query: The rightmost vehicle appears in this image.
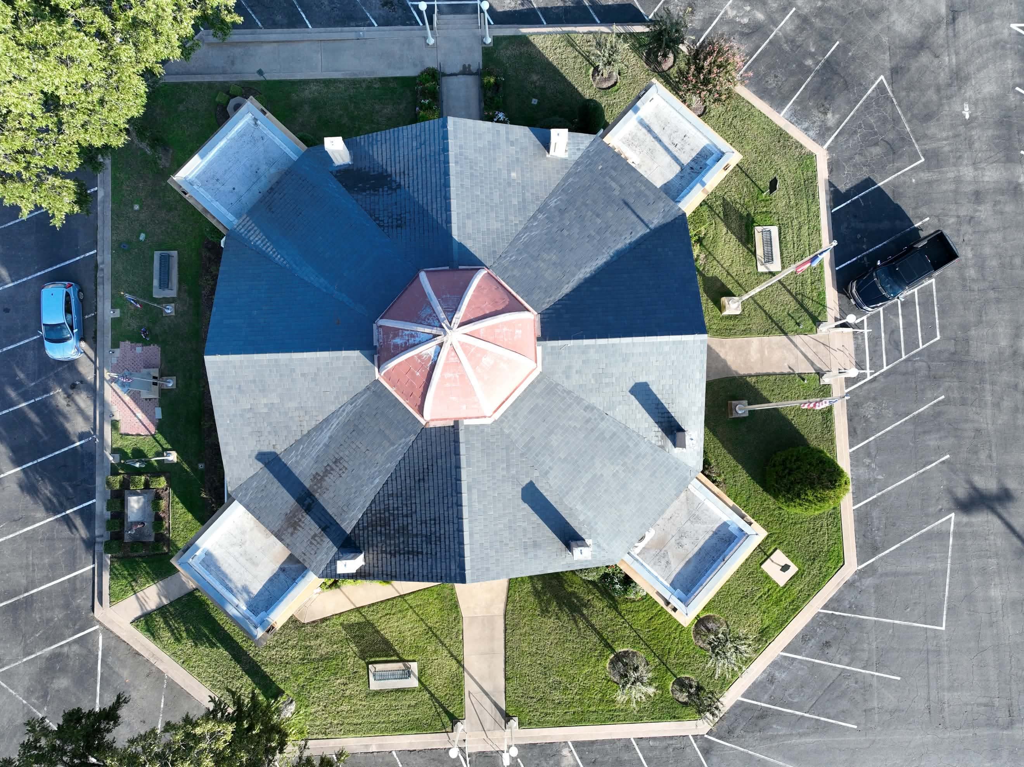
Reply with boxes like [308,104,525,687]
[843,229,957,315]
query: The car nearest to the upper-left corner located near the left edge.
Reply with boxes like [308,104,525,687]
[41,284,89,360]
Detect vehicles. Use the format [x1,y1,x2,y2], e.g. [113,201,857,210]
[41,284,89,360]
[843,229,957,315]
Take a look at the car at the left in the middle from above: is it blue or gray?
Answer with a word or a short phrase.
blue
